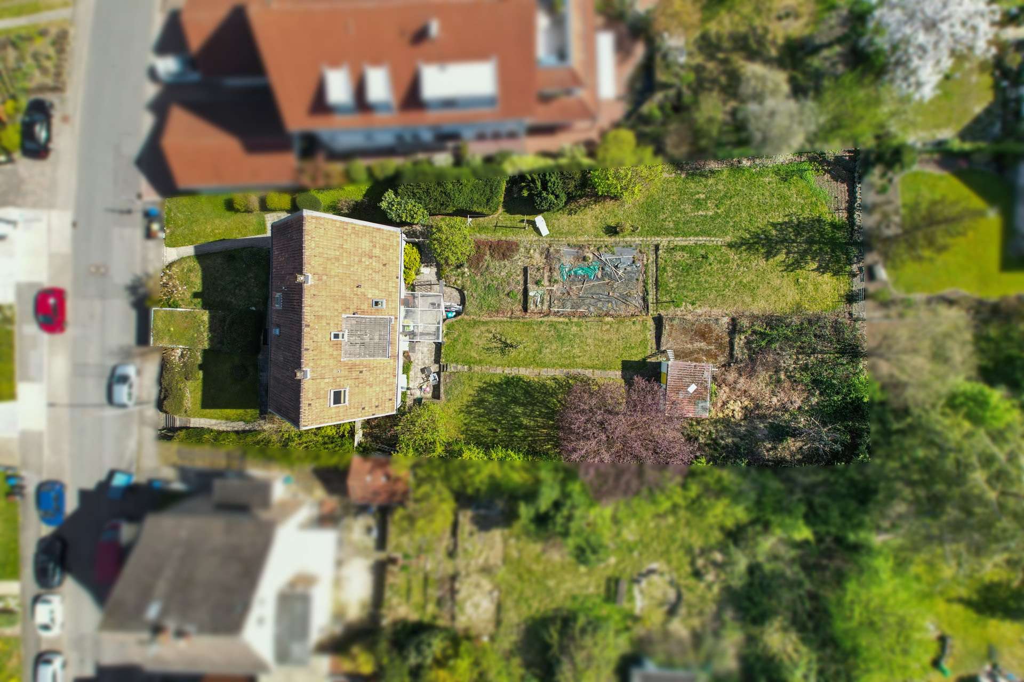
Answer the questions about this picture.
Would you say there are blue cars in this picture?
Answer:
Yes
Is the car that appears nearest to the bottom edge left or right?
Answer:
left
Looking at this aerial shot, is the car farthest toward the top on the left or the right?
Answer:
left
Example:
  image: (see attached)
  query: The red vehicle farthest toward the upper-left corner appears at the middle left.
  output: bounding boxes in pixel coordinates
[34,287,64,334]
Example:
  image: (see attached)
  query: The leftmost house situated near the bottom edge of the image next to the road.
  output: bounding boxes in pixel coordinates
[97,471,344,682]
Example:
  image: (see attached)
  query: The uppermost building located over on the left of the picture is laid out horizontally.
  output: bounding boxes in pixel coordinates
[159,0,597,193]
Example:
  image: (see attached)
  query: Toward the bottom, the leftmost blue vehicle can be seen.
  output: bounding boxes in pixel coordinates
[36,480,66,528]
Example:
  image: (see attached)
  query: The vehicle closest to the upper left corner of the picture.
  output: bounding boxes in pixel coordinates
[21,103,51,156]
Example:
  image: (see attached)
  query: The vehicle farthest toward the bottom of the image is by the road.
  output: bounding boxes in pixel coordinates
[37,647,65,682]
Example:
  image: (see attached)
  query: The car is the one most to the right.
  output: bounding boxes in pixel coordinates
[151,55,201,82]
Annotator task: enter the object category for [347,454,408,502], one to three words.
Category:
shed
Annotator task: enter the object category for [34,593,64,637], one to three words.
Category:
car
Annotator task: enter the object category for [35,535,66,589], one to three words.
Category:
car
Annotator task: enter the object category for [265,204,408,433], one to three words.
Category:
house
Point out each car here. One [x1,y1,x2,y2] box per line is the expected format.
[34,593,64,637]
[151,55,201,82]
[21,103,51,156]
[34,287,64,334]
[96,527,126,580]
[36,480,66,528]
[37,647,65,682]
[35,535,66,589]
[109,362,138,407]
